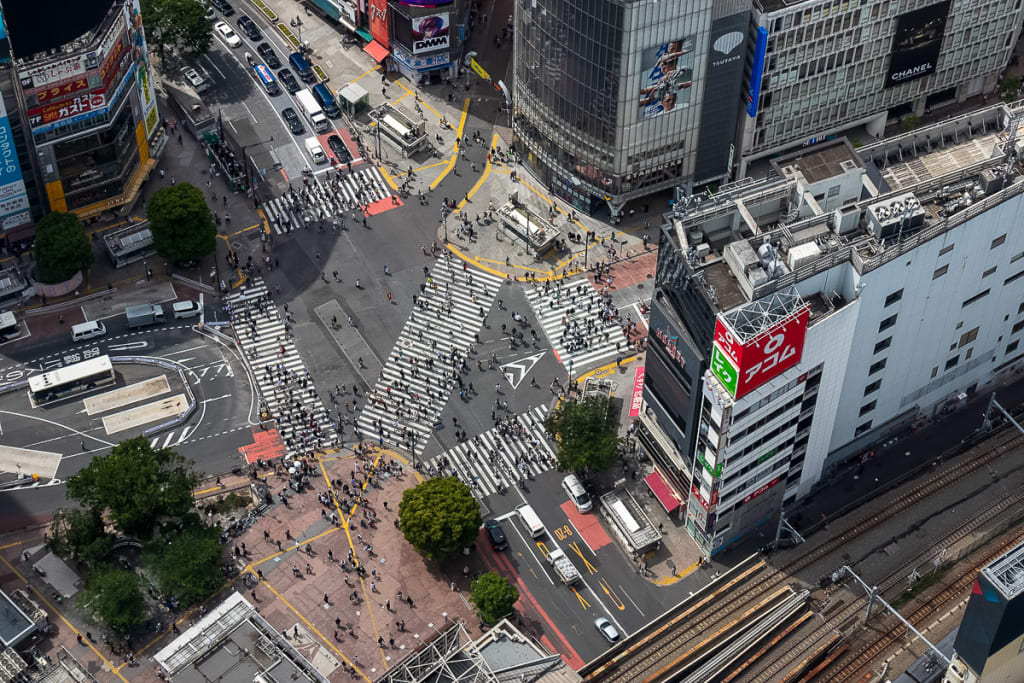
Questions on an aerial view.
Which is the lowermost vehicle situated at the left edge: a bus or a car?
bus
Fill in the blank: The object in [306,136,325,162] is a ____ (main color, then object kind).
white vehicle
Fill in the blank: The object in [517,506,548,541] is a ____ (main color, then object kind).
white van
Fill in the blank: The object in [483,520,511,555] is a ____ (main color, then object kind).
black car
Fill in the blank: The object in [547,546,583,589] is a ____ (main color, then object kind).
white truck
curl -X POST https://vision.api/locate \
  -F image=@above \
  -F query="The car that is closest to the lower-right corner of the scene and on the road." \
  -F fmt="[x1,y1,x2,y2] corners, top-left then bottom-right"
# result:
[593,614,623,647]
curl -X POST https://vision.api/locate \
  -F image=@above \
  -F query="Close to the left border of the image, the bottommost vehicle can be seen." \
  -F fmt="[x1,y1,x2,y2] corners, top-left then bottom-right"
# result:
[27,353,113,401]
